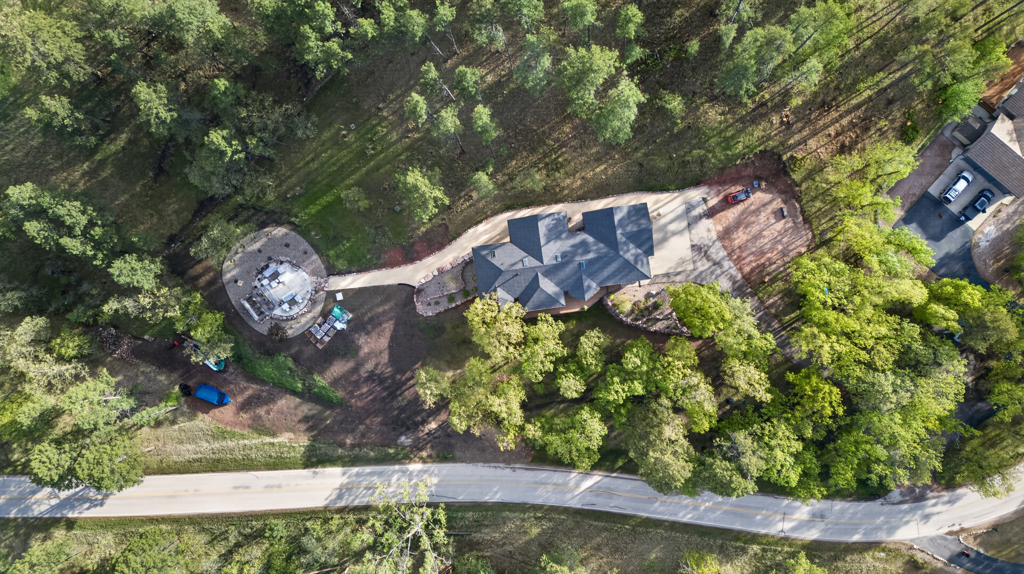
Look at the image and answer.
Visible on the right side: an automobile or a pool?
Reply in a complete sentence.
What appears on the right side is an automobile.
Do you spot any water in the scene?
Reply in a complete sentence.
No, there's no water in this view.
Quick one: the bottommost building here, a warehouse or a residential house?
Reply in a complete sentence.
The bottommost building can be classified as a residential house.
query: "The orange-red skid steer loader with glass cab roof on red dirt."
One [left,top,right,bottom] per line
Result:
[724,187,753,207]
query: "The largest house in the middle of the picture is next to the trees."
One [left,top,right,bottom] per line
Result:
[471,202,654,318]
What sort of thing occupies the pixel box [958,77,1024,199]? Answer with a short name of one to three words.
house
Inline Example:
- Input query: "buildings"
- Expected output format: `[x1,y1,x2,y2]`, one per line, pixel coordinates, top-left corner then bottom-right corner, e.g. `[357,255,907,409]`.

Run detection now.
[949,116,986,146]
[471,202,654,318]
[958,77,1024,199]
